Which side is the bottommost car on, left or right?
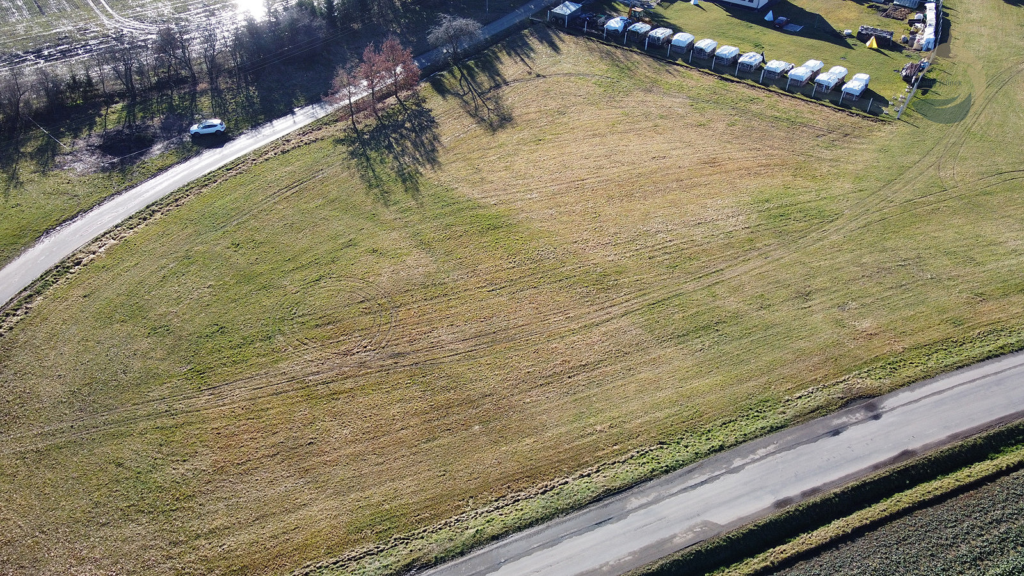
left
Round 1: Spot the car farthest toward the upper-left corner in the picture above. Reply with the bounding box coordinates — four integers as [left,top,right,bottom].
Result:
[188,115,228,136]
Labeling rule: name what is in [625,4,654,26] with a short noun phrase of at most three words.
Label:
work vehicle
